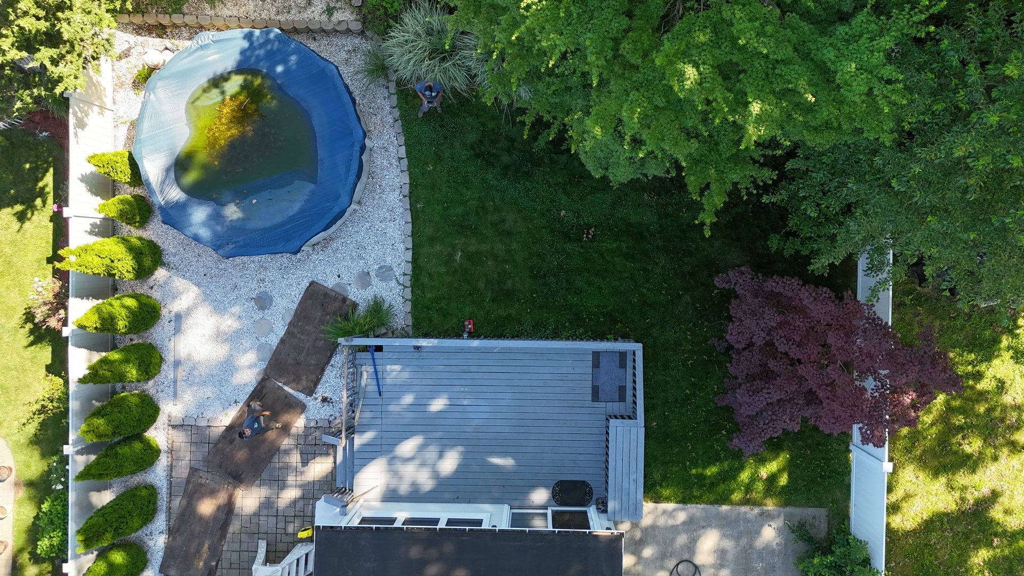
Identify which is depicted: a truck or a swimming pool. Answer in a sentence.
Of the two, only a swimming pool appears.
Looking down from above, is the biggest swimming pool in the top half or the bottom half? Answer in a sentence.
The top half of the photo is where the biggest swimming pool is.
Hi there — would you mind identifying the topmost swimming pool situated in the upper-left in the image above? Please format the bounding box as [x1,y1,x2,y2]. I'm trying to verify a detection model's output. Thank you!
[132,28,374,259]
